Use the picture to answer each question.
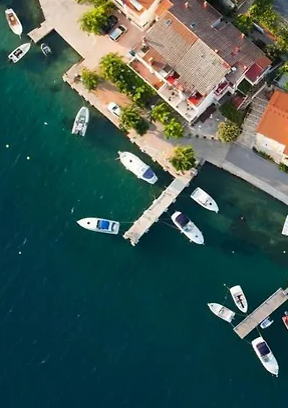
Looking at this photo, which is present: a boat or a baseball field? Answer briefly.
boat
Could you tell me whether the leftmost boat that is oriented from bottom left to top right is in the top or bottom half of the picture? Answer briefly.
top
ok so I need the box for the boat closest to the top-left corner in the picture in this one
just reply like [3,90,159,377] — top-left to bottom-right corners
[4,8,23,36]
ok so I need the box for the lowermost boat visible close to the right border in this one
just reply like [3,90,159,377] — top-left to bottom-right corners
[252,338,277,377]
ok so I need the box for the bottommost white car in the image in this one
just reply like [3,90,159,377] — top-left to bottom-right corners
[107,101,123,119]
